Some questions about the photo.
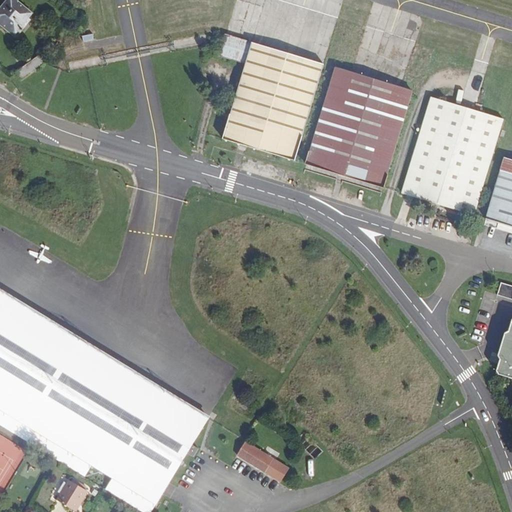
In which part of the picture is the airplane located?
left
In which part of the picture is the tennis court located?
bottom left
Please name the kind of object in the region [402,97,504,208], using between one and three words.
hangar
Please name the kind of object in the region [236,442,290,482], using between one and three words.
building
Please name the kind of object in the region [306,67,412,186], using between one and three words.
hangar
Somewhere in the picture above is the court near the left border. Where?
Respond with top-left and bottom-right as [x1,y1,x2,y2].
[0,438,24,488]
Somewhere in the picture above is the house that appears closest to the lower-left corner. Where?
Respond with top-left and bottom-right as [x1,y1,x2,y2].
[54,476,90,512]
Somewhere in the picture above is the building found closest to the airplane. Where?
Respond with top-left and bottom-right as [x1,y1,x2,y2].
[0,287,209,512]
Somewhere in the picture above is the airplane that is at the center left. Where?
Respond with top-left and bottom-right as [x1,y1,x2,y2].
[28,244,52,264]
